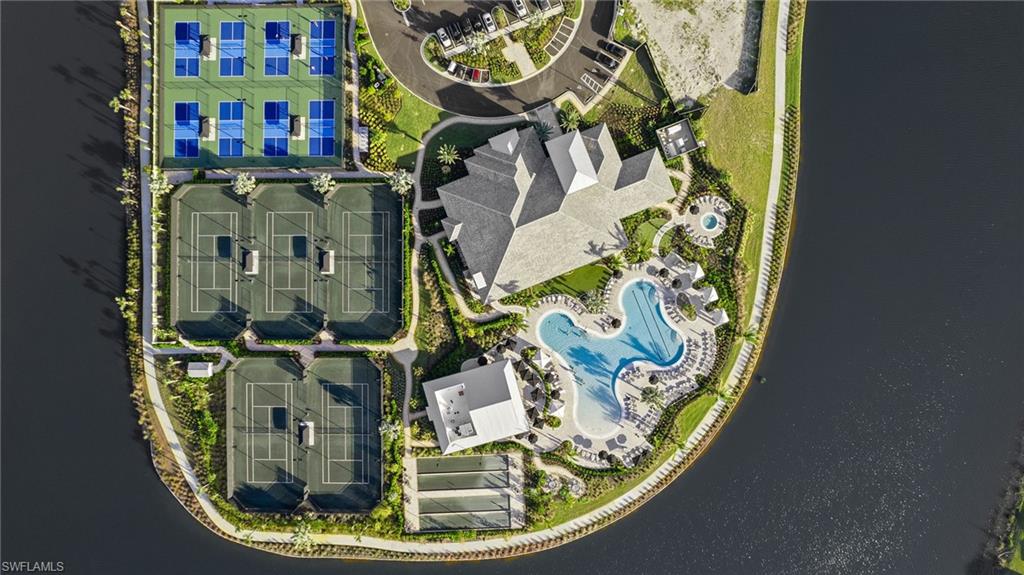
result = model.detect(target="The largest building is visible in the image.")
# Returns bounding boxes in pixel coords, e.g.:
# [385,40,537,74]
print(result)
[437,122,677,304]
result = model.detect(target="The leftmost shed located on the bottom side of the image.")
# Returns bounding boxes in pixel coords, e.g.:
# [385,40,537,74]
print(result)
[186,362,215,377]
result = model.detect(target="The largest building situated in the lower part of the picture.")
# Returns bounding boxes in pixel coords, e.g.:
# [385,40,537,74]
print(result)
[423,360,529,455]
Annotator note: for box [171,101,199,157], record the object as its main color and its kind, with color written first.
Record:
blue sports court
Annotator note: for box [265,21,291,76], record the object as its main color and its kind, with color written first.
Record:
blue sports court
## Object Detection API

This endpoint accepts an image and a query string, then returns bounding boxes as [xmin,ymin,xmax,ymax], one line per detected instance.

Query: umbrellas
[611,318,621,329]
[511,357,524,371]
[544,372,554,382]
[532,415,546,429]
[640,448,651,458]
[598,449,608,459]
[496,343,506,353]
[526,371,540,385]
[671,278,681,288]
[550,389,561,399]
[688,205,699,215]
[528,433,538,443]
[659,268,669,278]
[505,337,519,351]
[613,268,623,279]
[477,356,487,366]
[530,388,544,402]
[648,374,658,384]
[525,405,539,419]
[629,451,643,465]
[607,452,617,463]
